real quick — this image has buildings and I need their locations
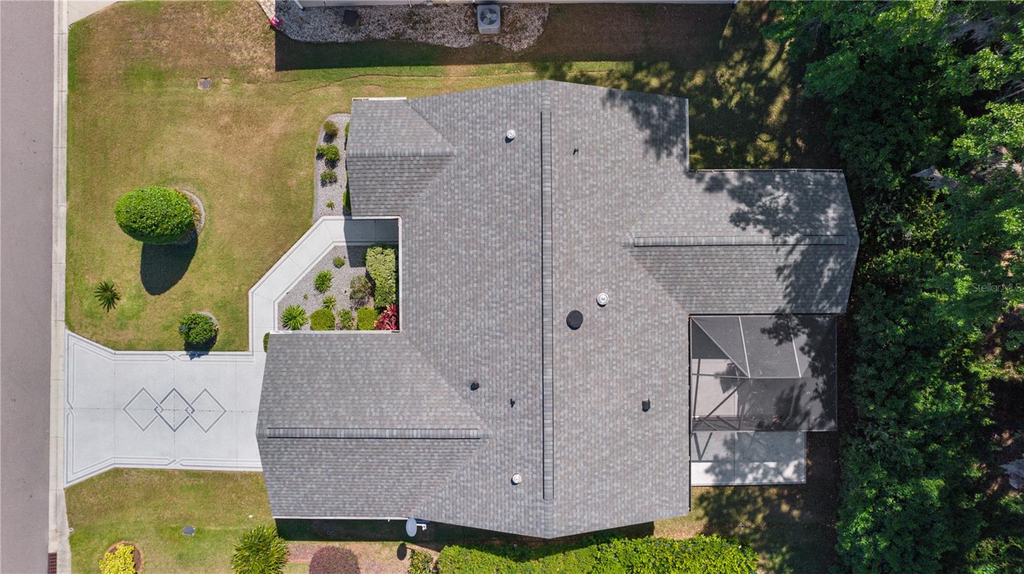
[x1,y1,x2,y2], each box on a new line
[257,79,858,539]
[291,0,737,13]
